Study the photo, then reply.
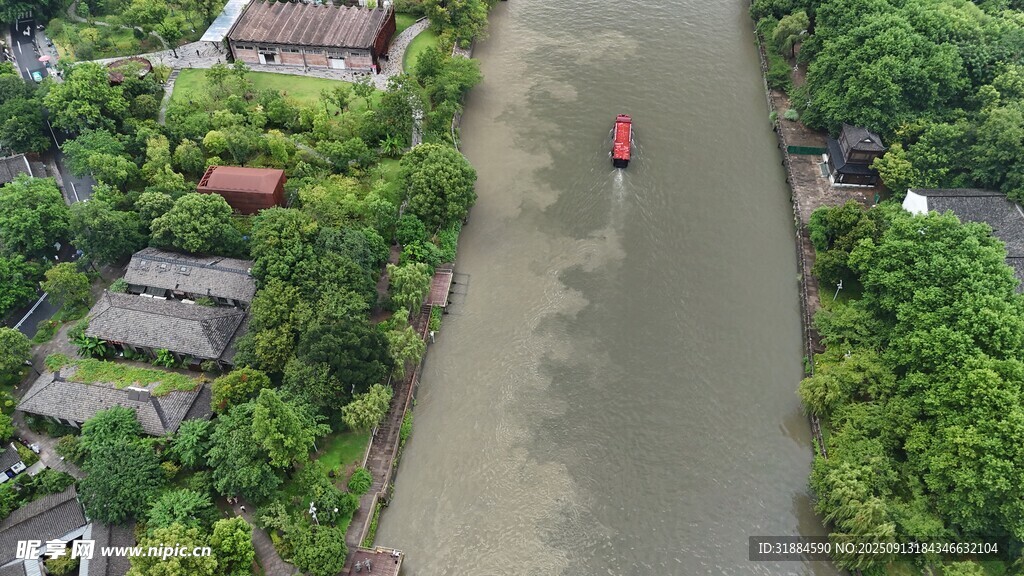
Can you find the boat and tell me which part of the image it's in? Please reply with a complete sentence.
The boat sits in the top section of the image.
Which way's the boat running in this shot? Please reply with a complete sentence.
I'd say the boat is aligned from top to bottom in the picture.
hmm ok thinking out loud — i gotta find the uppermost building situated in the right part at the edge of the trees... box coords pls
[828,123,895,188]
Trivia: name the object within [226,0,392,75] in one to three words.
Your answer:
building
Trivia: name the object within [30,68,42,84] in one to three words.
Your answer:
vehicle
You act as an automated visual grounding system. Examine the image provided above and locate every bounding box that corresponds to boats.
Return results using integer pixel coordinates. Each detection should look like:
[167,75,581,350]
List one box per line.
[609,112,632,171]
